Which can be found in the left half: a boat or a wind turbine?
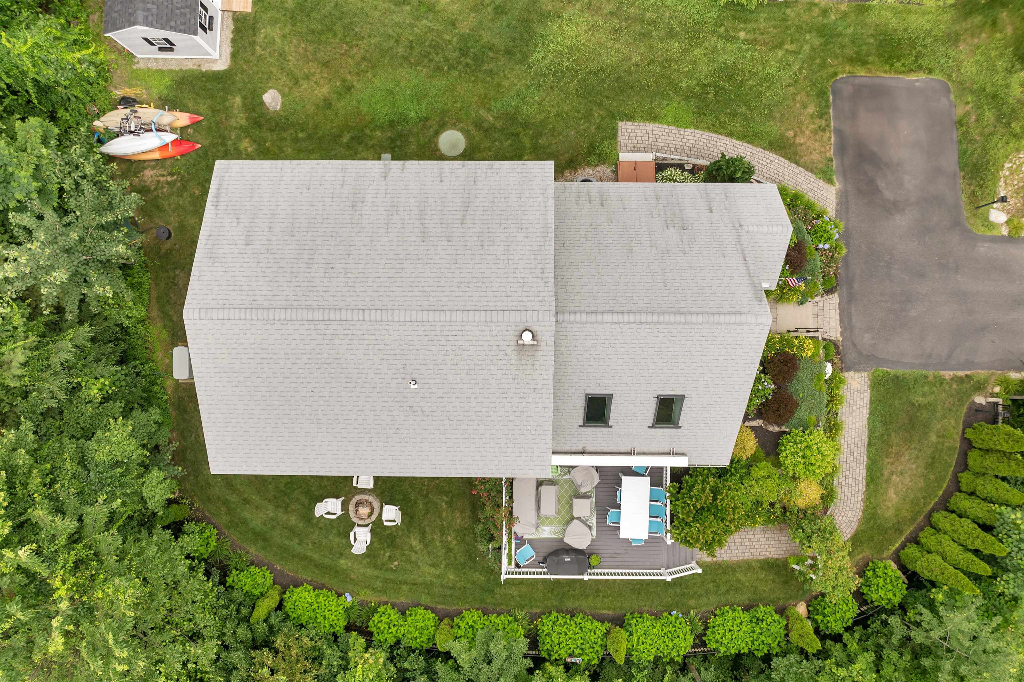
boat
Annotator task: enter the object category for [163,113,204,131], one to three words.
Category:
boat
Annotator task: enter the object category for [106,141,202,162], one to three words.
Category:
boat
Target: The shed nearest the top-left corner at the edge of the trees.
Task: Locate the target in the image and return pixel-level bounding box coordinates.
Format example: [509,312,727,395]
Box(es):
[103,0,220,58]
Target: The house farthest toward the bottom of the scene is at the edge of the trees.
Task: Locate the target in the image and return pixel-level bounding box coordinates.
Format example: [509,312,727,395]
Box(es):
[183,158,794,476]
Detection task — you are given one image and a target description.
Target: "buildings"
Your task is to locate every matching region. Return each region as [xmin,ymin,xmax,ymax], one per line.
[103,0,220,58]
[183,158,794,476]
